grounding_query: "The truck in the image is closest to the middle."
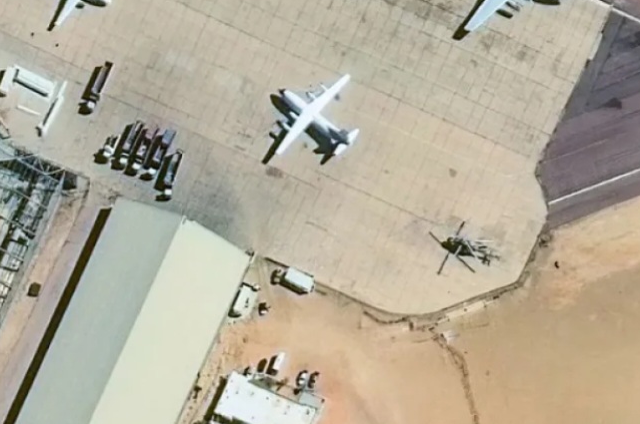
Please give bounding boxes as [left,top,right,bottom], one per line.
[278,269,313,293]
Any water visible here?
No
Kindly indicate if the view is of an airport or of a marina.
airport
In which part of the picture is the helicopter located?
right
